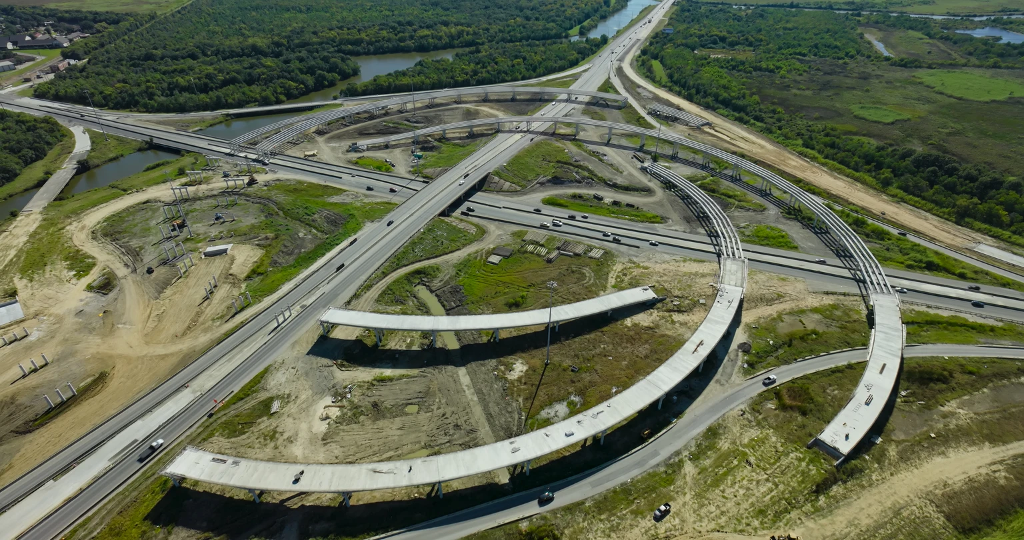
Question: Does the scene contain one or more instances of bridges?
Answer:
Yes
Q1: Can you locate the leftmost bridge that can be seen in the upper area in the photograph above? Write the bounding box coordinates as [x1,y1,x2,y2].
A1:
[15,165,79,218]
